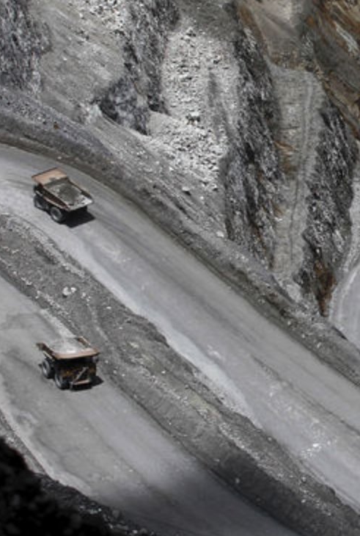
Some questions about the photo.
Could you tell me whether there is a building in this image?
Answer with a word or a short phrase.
No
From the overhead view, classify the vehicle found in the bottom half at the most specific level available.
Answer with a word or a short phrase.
truck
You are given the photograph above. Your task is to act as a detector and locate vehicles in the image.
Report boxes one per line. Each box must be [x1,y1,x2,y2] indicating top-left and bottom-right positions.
[39,326,101,390]
[28,169,87,227]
